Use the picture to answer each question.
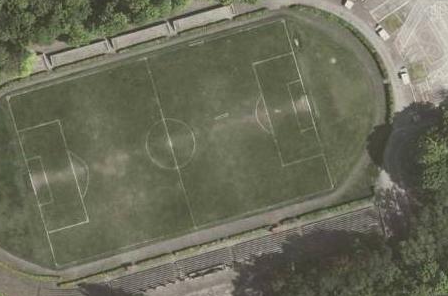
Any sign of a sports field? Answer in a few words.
Yes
